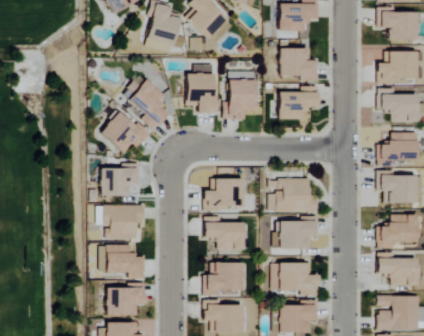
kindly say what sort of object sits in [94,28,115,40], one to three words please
swimming pool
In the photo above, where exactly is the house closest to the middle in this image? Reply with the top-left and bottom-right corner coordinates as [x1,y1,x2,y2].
[202,178,243,210]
